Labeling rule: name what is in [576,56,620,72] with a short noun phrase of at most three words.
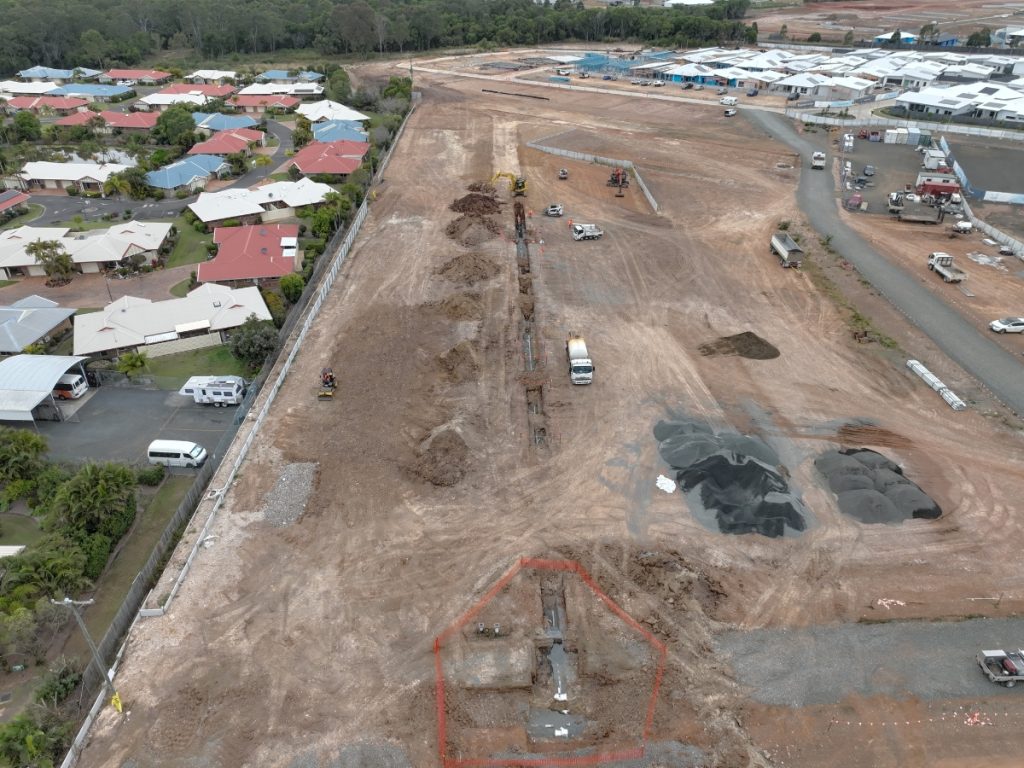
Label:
house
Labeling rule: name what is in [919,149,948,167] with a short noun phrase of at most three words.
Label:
shed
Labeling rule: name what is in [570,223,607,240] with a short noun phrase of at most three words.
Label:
vehicle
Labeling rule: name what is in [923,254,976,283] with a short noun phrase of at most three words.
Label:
truck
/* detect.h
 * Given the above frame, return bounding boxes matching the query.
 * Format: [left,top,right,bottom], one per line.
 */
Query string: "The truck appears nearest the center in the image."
[567,329,598,385]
